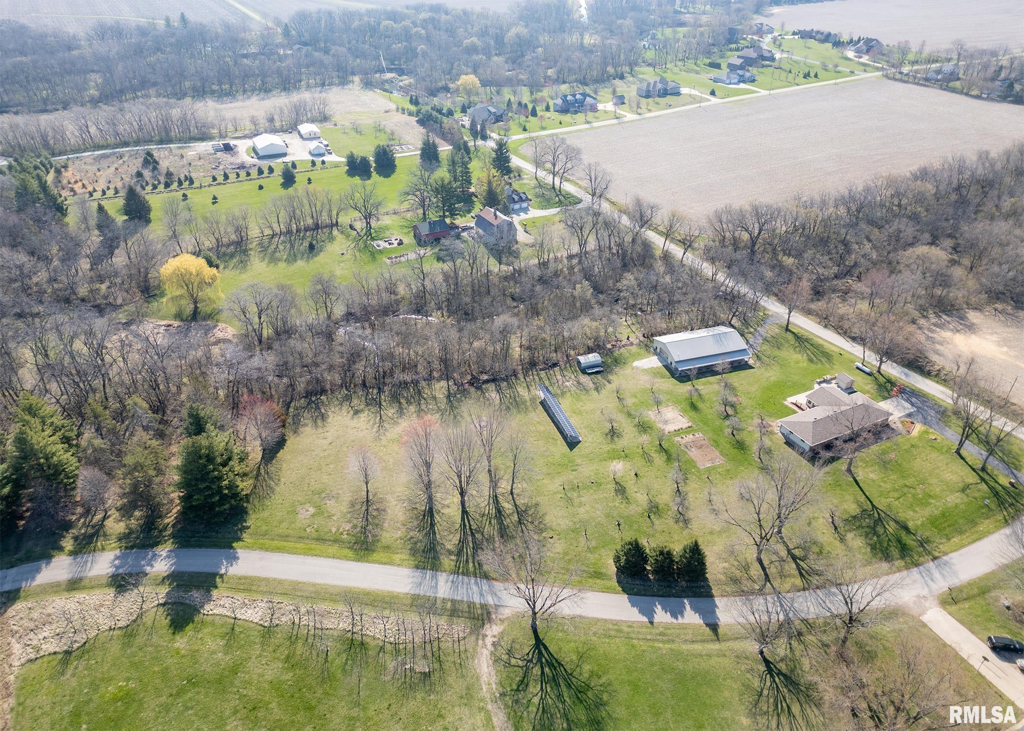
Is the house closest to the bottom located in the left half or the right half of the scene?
right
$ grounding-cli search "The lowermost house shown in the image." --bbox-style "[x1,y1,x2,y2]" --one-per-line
[776,383,895,454]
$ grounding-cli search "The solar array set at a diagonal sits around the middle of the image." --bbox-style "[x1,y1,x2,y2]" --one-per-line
[537,383,582,444]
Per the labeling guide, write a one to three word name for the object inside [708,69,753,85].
house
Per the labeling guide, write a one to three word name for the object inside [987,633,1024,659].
car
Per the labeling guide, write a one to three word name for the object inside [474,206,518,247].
barn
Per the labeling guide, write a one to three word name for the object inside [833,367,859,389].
shed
